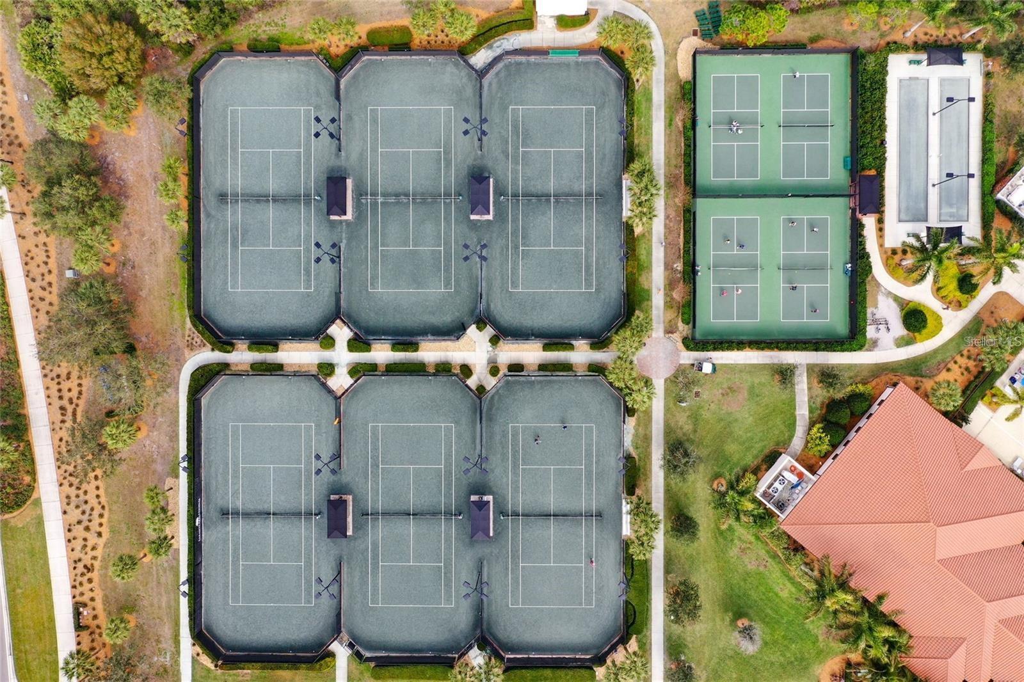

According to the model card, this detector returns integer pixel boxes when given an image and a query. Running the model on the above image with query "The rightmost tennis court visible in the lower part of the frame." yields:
[481,377,623,655]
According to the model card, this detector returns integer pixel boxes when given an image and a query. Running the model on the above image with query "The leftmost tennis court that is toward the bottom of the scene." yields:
[203,376,341,653]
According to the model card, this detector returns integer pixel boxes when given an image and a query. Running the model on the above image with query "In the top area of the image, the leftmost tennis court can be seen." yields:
[202,59,339,338]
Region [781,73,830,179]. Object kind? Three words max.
sports court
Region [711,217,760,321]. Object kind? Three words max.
sports court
